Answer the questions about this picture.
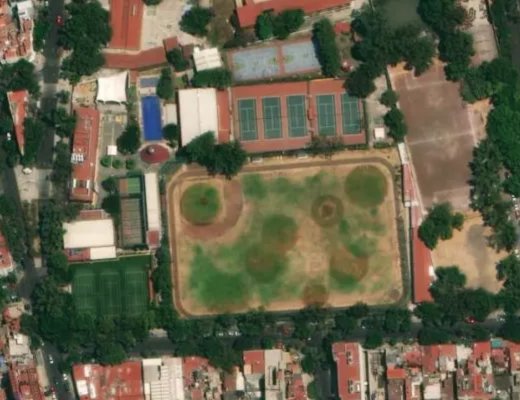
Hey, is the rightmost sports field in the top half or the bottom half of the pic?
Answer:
top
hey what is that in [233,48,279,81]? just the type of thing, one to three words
basketball court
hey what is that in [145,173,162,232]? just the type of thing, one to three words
building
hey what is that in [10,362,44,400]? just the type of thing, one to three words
house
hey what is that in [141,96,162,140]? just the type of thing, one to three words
swimming pool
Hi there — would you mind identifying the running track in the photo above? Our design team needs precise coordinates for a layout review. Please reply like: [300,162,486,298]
[170,157,402,319]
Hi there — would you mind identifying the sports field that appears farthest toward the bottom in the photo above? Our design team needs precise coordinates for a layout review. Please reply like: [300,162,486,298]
[164,148,408,322]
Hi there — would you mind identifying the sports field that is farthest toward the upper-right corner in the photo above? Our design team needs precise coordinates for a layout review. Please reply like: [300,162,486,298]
[388,51,490,214]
